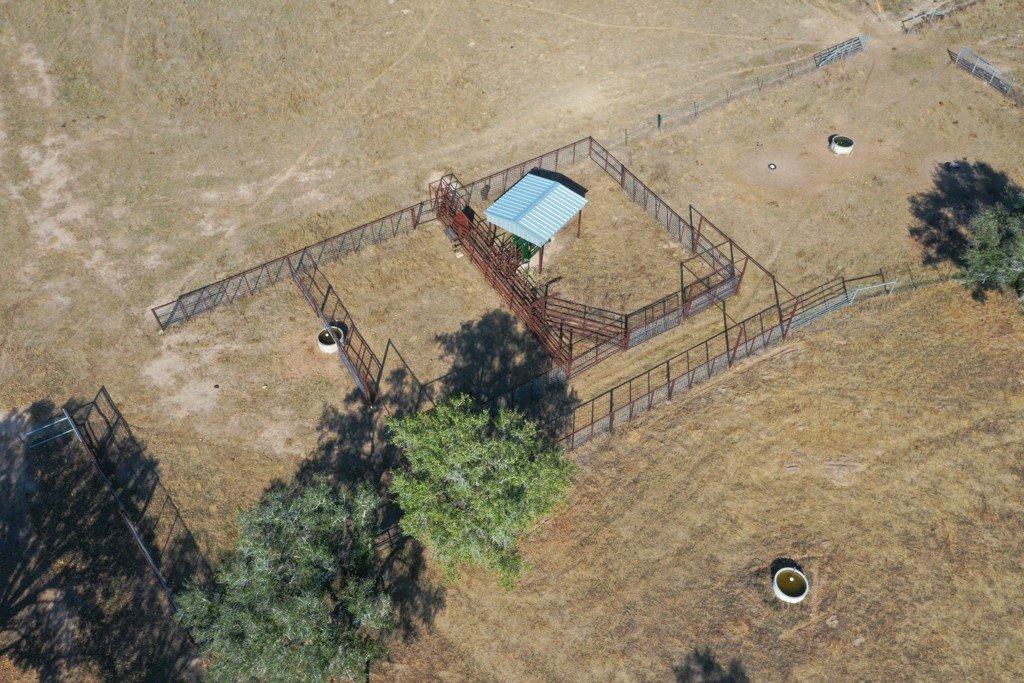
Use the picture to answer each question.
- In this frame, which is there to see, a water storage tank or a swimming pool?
water storage tank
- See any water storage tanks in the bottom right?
Yes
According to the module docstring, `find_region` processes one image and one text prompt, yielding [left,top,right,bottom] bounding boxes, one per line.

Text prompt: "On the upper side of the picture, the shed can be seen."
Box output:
[485,173,590,270]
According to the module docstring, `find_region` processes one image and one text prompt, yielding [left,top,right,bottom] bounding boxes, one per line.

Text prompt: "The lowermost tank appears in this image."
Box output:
[769,565,808,604]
